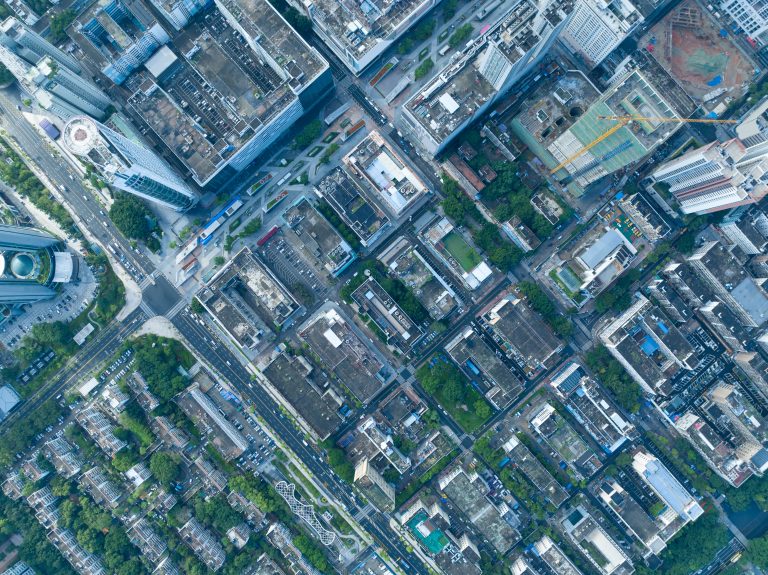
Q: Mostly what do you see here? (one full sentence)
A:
The largest share of the image is taken up by buildings.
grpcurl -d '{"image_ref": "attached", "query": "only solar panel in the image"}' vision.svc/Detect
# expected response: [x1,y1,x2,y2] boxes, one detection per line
[611,247,634,266]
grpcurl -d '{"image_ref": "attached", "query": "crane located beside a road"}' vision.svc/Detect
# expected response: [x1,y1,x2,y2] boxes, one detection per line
[550,115,739,174]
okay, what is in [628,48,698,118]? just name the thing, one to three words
shed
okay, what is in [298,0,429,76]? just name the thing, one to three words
building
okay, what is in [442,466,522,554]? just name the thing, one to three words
building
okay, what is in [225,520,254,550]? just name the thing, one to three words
house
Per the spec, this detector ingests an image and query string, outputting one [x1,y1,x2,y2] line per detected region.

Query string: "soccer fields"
[442,229,483,272]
